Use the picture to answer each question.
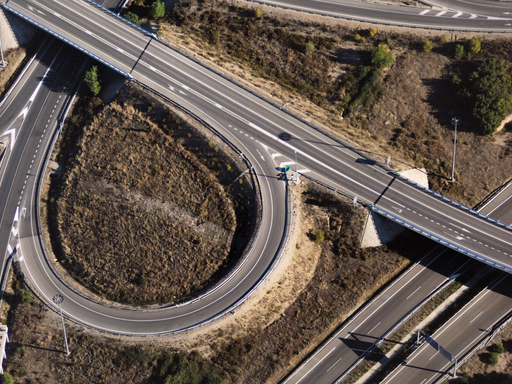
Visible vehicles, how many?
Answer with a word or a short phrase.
0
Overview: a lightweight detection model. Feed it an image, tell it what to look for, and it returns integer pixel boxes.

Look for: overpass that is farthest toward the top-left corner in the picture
[2,0,159,75]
